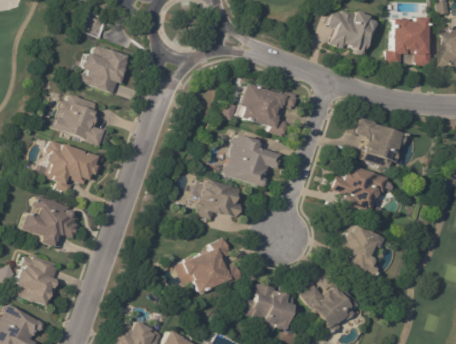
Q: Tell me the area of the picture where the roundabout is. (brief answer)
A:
top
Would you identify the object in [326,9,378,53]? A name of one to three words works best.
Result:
house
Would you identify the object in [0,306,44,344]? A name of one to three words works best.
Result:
house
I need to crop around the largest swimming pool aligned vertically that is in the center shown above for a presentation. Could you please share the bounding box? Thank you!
[176,174,189,200]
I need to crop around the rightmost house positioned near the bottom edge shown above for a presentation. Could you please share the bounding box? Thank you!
[298,284,358,330]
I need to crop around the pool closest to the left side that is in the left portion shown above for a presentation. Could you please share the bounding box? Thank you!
[28,143,42,163]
